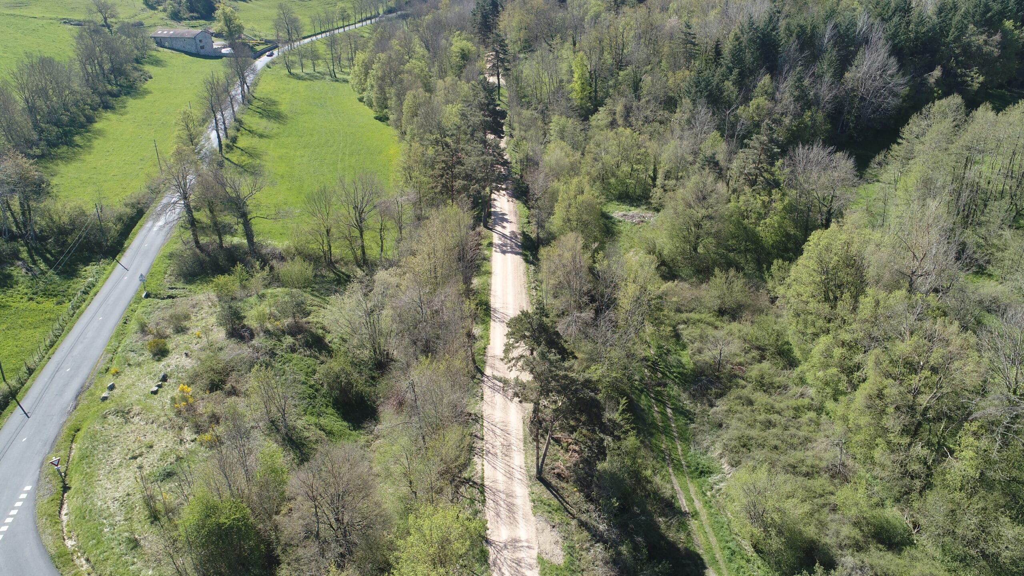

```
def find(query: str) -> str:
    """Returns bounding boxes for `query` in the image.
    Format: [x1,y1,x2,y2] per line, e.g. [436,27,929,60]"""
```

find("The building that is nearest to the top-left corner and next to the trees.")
[148,25,216,56]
